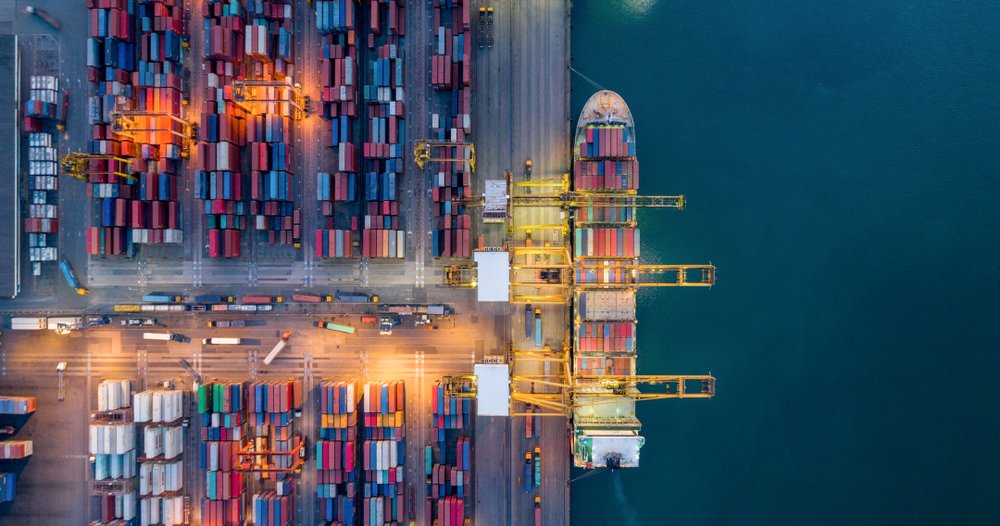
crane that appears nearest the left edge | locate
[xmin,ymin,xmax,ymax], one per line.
[57,153,142,185]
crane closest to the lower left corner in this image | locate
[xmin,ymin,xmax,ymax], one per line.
[228,433,305,471]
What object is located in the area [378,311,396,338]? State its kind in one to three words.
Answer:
work vehicle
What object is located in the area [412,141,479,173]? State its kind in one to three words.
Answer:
crane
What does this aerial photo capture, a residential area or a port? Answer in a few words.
port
